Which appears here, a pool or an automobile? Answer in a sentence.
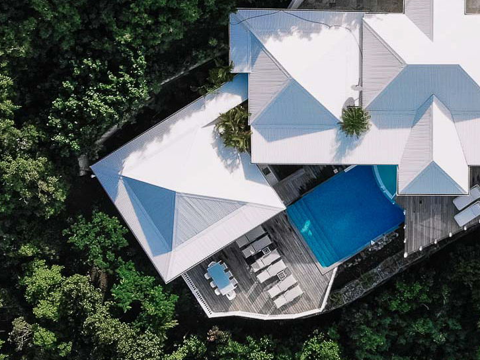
The one in the frame is a pool.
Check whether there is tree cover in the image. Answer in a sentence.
Yes, tree cover shows up in the scene.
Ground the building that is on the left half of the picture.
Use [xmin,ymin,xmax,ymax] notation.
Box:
[88,72,288,283]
